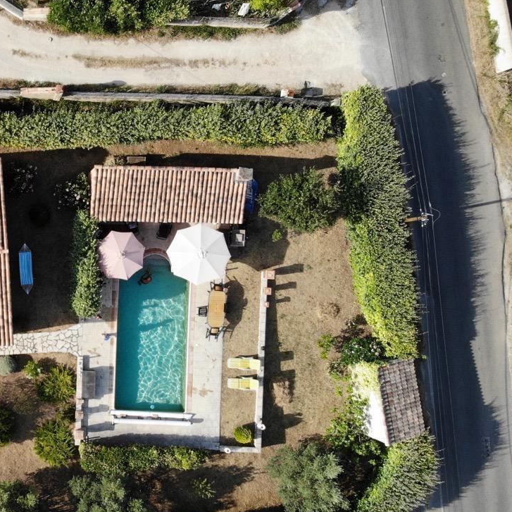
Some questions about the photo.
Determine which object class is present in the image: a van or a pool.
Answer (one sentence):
The image shows a pool.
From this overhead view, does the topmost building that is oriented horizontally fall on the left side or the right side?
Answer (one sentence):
The topmost building that is oriented horizontally is on the left side of the image.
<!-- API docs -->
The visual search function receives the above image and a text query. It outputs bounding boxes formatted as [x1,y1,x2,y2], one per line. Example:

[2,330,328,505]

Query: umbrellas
[166,226,226,284]
[97,233,143,280]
